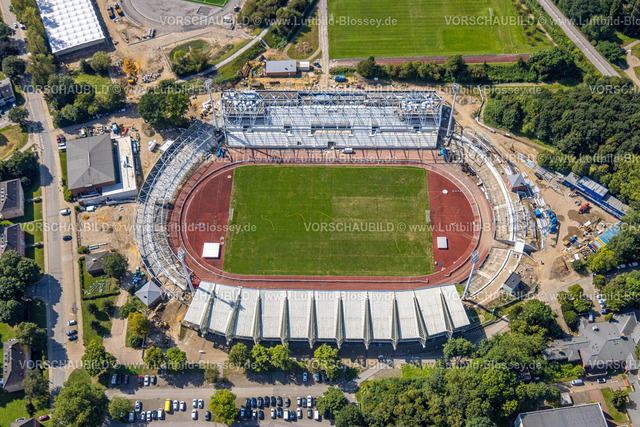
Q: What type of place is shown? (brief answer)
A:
sports ground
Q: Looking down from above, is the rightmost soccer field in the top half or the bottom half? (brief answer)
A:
top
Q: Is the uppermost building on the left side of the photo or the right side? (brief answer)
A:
left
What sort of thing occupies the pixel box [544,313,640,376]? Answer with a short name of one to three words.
building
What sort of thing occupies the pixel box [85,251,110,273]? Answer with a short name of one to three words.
building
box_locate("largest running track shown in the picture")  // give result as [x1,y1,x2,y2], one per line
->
[166,151,494,291]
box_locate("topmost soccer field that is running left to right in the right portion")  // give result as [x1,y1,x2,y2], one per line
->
[329,0,533,59]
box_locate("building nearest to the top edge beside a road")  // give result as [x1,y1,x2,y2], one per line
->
[36,0,106,60]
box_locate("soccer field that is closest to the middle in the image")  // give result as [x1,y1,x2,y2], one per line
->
[222,164,435,275]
